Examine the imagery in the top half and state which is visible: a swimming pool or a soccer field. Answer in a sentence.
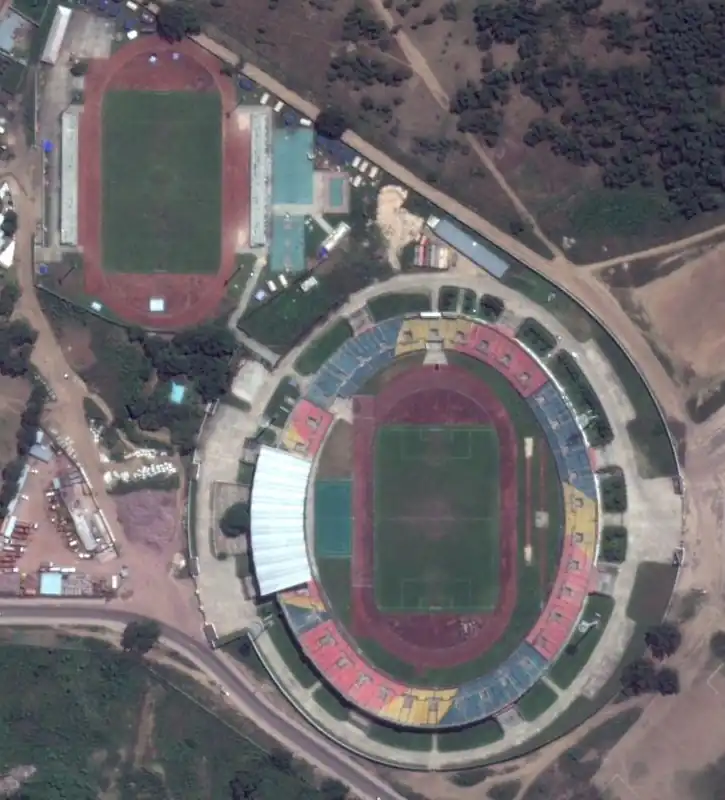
It is a soccer field that can be seen in the top half.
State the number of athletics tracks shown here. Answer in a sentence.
The count of athletics tracks comes to 2.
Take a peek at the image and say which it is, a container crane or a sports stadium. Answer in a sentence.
There is a sports stadium in the scene.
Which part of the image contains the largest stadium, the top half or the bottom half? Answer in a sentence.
You can find the largest stadium in the bottom half.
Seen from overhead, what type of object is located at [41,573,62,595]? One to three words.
building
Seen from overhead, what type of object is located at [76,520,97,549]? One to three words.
building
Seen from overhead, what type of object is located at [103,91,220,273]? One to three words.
soccer field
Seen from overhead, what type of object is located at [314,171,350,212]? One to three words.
sports court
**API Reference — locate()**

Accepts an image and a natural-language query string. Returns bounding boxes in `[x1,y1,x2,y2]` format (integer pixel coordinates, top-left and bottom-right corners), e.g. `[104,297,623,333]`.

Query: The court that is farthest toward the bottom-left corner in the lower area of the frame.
[316,480,352,556]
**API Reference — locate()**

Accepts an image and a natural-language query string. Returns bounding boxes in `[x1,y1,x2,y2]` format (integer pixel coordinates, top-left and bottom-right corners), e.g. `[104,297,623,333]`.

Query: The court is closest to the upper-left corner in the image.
[273,127,314,205]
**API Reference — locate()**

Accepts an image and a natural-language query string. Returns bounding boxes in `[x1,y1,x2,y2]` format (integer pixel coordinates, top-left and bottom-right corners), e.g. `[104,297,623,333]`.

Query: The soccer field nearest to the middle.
[373,424,499,612]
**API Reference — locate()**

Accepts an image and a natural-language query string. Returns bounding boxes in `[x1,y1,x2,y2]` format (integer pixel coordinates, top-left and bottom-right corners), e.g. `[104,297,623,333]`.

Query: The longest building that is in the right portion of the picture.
[431,219,512,278]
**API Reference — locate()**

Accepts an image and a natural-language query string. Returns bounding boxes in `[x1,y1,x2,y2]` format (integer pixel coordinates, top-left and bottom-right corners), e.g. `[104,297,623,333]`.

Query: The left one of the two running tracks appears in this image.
[83,35,250,329]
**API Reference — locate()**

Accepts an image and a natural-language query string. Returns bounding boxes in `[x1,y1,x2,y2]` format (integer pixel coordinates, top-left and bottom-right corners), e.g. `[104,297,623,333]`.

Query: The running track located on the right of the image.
[353,366,517,669]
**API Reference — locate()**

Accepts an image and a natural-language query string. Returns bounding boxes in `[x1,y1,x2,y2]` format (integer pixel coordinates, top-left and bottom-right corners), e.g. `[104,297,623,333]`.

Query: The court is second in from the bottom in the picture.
[271,215,305,271]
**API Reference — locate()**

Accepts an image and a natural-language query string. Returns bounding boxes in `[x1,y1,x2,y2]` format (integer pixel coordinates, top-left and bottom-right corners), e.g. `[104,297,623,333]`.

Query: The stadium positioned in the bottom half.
[250,311,609,730]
